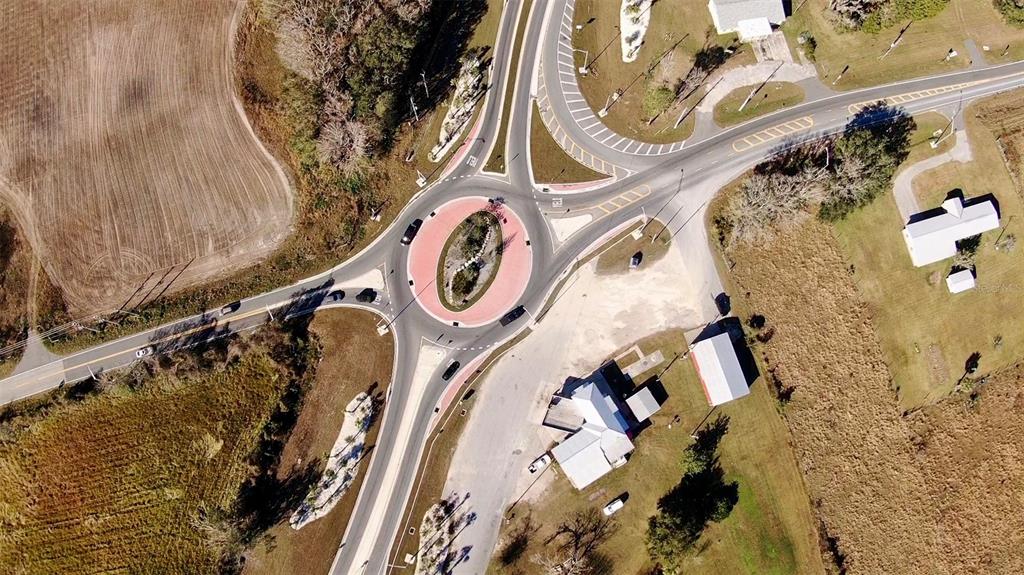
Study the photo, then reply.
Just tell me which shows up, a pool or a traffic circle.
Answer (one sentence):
Of the two, only a traffic circle appears.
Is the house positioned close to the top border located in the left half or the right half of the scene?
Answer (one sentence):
It is on the right.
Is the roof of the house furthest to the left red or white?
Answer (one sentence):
The roof of the house furthest to the left is white.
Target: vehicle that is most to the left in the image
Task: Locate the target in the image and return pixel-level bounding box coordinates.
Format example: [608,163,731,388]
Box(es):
[135,345,155,357]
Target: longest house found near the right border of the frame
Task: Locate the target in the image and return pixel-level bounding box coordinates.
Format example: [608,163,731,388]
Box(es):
[903,197,1000,268]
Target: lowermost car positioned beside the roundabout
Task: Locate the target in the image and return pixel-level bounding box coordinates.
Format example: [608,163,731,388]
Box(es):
[442,360,460,380]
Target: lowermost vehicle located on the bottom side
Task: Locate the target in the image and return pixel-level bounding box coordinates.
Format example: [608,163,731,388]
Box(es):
[601,497,624,515]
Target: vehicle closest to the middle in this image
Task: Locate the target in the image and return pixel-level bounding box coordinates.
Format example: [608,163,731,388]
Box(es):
[500,305,525,324]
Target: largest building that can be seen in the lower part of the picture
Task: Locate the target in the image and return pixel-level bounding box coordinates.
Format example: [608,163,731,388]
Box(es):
[551,377,635,490]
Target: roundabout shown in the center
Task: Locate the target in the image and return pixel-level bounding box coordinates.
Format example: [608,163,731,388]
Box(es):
[379,143,562,357]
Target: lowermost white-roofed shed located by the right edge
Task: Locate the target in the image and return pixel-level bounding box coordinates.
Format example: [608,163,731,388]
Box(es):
[942,269,975,293]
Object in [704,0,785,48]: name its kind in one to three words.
house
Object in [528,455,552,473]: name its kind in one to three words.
car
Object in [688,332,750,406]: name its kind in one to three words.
barn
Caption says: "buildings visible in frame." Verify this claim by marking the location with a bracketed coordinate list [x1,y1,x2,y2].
[625,387,660,421]
[688,332,750,406]
[942,269,975,293]
[903,197,1000,268]
[704,0,785,48]
[551,377,635,490]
